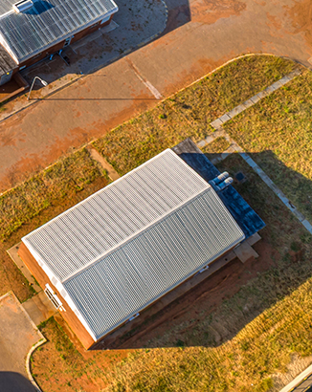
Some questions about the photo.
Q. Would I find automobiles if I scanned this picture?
No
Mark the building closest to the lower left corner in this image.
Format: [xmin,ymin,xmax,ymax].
[19,138,266,346]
